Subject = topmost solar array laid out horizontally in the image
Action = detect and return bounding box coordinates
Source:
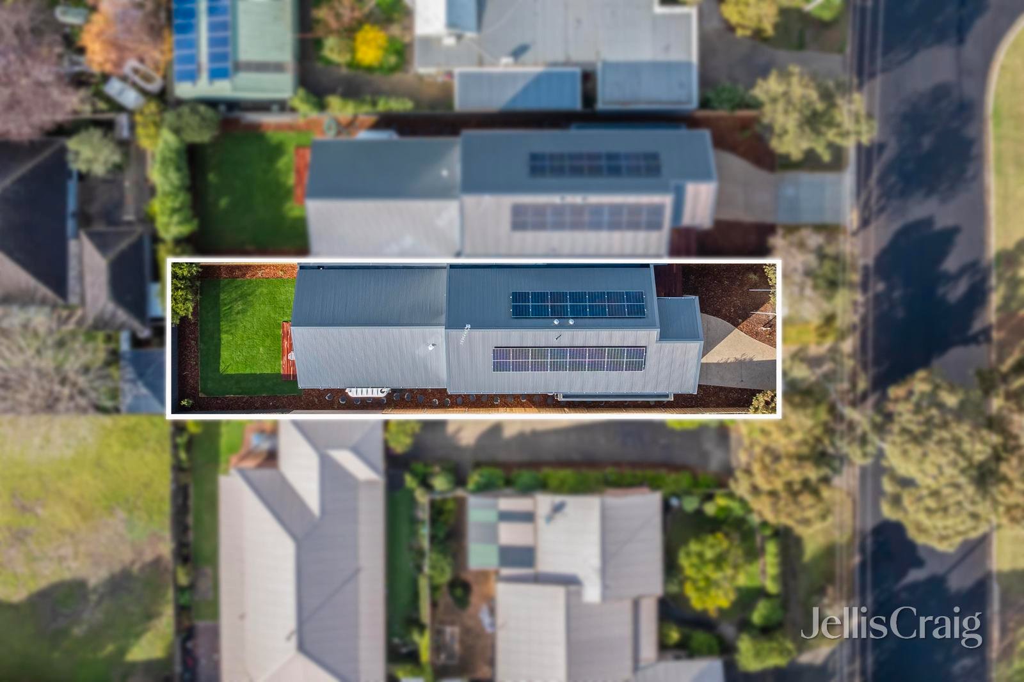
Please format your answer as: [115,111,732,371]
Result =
[528,152,664,175]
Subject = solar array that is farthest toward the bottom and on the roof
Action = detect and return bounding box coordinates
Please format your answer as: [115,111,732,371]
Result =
[491,348,646,373]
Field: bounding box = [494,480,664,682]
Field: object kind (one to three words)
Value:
house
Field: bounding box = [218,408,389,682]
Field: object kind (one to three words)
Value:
house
